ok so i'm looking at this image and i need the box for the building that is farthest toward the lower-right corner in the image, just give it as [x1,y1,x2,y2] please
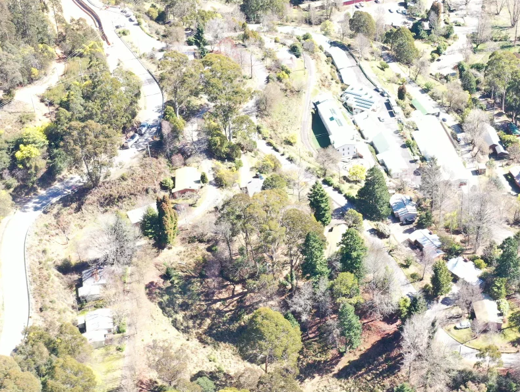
[468,298,505,335]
